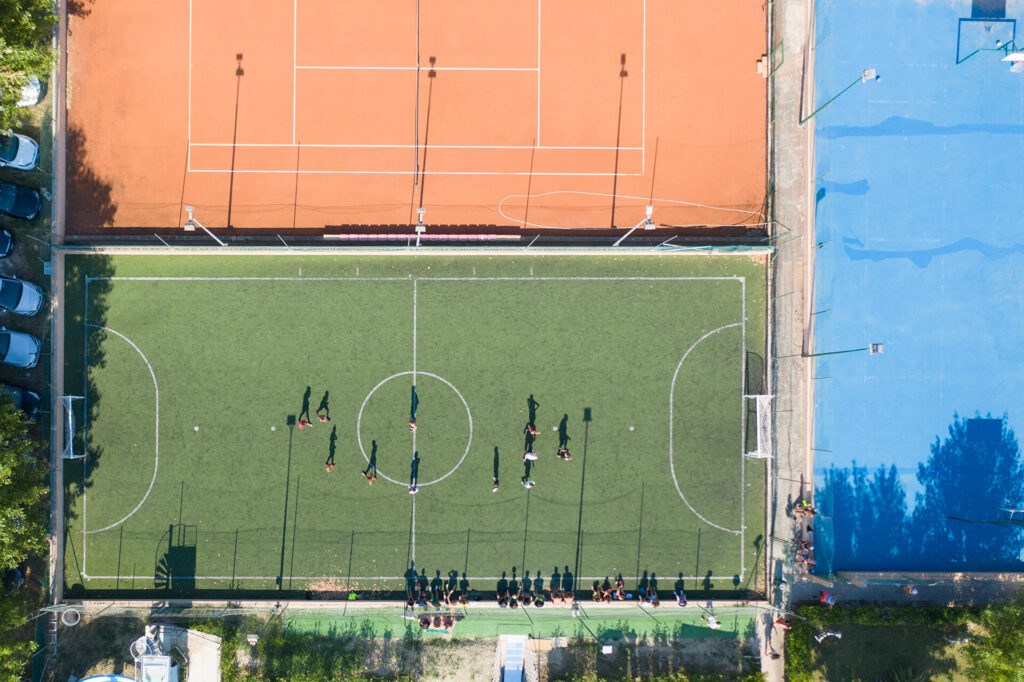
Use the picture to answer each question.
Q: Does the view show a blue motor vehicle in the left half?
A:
Yes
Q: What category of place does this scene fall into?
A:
sports ground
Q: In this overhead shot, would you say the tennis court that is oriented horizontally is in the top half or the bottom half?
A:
top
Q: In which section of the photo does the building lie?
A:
bottom left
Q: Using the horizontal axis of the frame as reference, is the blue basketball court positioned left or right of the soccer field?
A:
on its right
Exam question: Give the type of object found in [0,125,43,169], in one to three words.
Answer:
car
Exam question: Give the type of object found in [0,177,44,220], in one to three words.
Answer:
car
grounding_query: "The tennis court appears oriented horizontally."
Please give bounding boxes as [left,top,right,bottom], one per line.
[65,0,766,240]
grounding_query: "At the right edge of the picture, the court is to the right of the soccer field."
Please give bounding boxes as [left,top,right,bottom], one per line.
[818,0,1024,572]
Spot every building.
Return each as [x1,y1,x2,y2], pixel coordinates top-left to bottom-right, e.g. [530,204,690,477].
[136,645,181,682]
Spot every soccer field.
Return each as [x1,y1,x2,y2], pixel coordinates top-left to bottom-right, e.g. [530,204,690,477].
[65,255,766,598]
